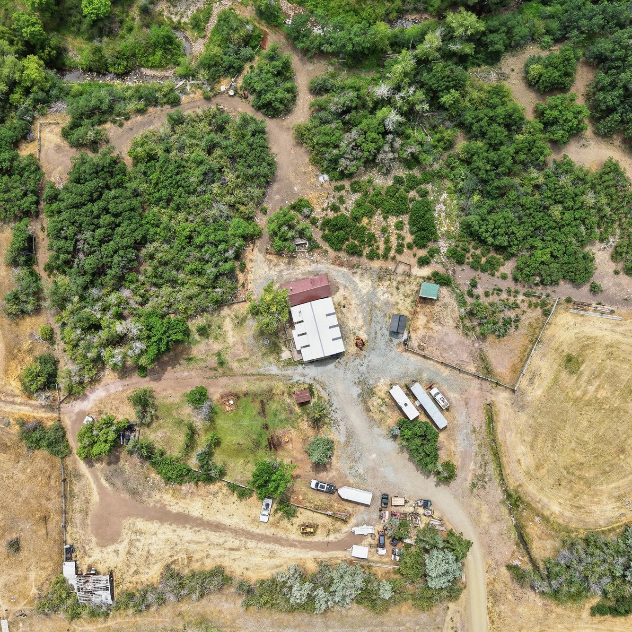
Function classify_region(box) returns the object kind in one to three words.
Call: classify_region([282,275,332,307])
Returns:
house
